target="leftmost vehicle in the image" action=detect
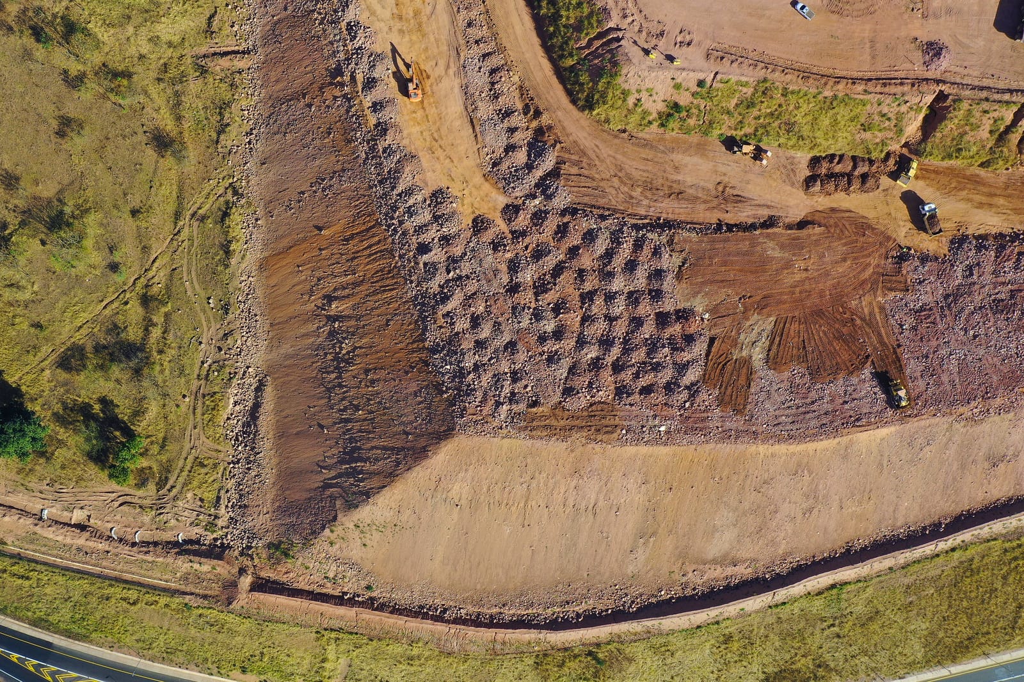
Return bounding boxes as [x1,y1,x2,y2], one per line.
[407,57,426,105]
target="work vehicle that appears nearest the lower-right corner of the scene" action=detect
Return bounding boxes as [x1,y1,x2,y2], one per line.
[885,381,912,408]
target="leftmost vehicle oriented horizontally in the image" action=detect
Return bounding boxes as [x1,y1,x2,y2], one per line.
[731,142,768,160]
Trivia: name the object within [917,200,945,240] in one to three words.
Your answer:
truck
